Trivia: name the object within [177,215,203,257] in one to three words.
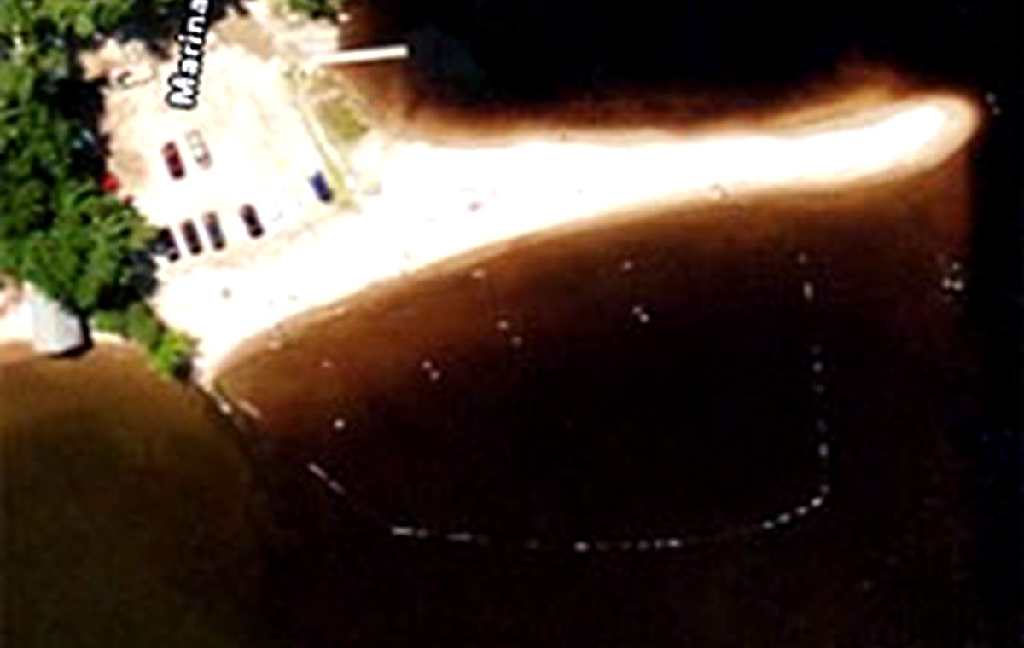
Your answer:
car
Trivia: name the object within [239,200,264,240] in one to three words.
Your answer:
car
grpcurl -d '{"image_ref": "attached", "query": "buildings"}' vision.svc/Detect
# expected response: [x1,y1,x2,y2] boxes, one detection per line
[21,288,82,354]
